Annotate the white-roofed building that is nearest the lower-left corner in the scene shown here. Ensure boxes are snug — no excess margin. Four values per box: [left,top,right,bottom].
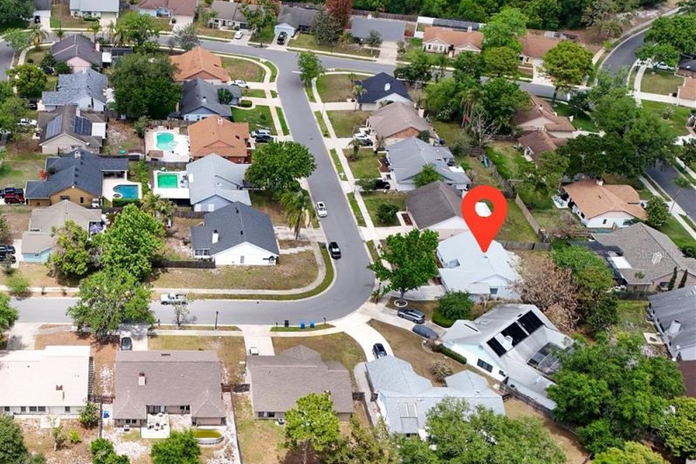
[0,337,91,415]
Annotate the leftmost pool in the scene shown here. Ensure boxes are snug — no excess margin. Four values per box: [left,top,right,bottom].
[104,180,143,203]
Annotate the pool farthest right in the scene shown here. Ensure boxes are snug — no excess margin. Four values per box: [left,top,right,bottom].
[527,343,568,375]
